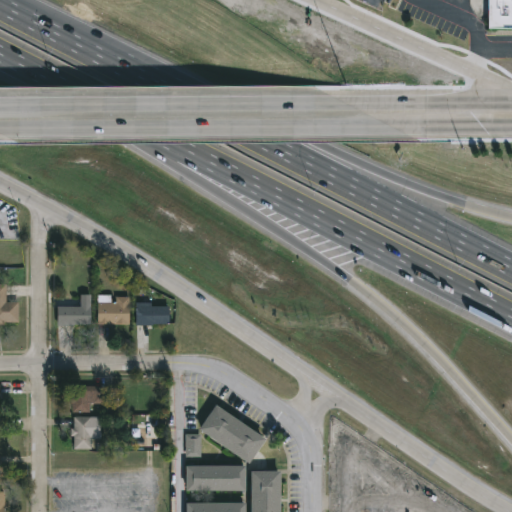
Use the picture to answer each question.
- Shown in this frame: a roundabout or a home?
home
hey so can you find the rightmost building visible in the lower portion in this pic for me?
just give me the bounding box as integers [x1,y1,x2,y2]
[252,472,282,512]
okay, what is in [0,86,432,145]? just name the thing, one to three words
overpass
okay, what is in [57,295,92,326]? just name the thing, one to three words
house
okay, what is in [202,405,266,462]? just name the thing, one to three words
building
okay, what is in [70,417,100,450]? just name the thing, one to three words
house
